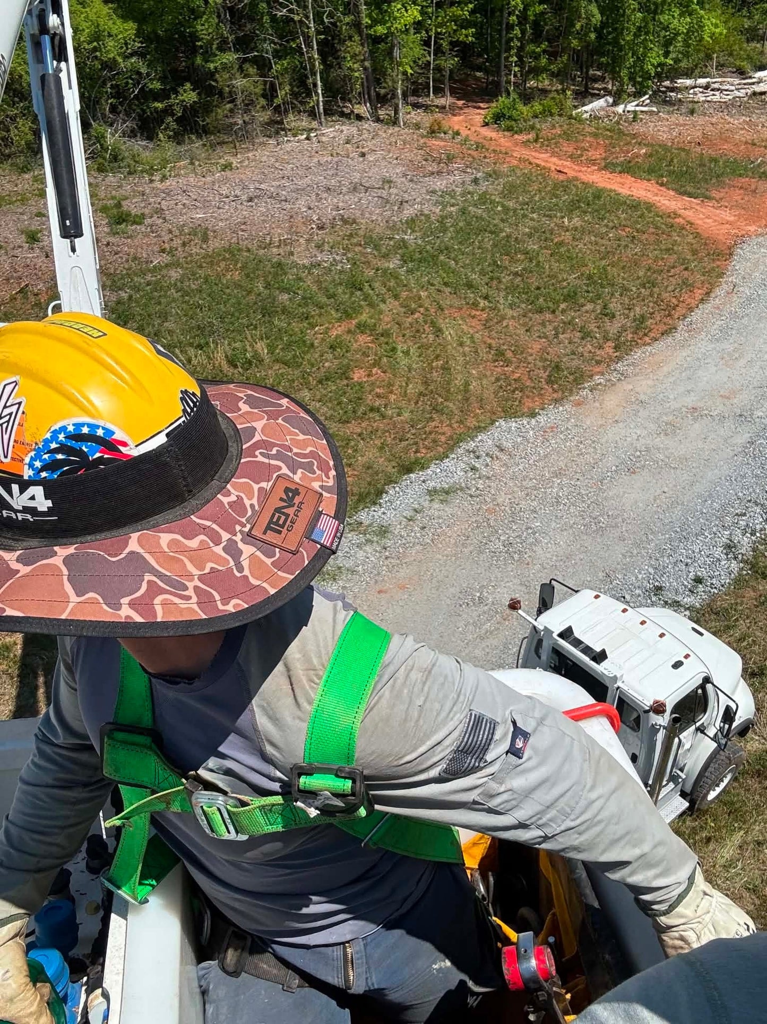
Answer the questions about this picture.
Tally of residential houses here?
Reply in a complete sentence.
The count of residential houses is 0.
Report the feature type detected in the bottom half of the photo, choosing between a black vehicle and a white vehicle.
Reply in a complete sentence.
The one visible in the bottom half of the photo is a white vehicle.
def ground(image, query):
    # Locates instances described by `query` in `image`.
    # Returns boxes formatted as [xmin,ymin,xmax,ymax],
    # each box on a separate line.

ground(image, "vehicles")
[507,579,754,817]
